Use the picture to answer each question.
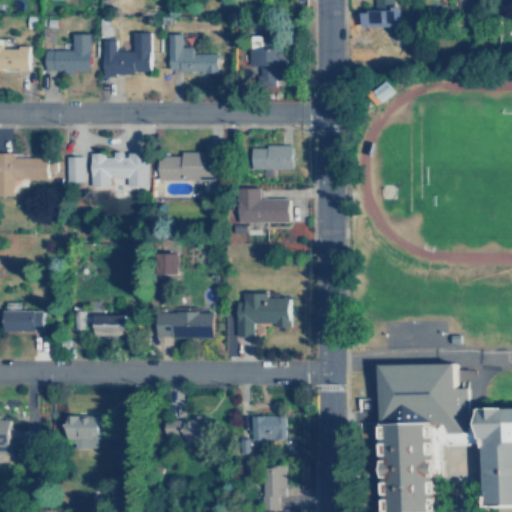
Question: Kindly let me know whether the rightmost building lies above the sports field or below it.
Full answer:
In the image, the rightmost building sits below the sports field.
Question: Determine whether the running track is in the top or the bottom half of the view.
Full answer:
It is in the top half that the running track appears.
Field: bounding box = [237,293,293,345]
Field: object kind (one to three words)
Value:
house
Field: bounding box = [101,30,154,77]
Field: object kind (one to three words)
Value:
house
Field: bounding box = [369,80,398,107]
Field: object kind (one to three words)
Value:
shed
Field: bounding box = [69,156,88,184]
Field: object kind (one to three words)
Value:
building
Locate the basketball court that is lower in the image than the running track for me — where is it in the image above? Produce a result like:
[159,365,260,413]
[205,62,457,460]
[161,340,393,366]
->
[388,322,448,348]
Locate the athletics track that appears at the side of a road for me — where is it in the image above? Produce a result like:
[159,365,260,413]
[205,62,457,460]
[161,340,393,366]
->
[362,82,512,264]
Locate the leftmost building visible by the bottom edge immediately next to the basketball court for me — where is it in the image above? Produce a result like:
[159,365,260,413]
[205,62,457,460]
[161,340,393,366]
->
[374,364,471,512]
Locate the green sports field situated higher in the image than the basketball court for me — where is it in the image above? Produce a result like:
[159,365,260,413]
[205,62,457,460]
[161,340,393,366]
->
[374,92,512,252]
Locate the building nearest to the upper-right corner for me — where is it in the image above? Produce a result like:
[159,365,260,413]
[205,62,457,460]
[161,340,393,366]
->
[358,0,402,28]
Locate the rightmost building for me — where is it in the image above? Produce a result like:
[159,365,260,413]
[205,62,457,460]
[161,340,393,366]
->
[470,408,512,508]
